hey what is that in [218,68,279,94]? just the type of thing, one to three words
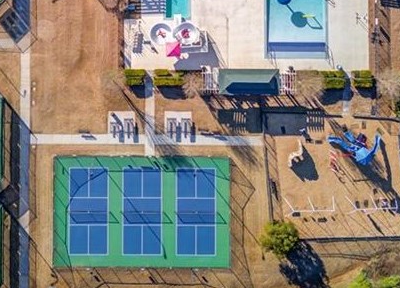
building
